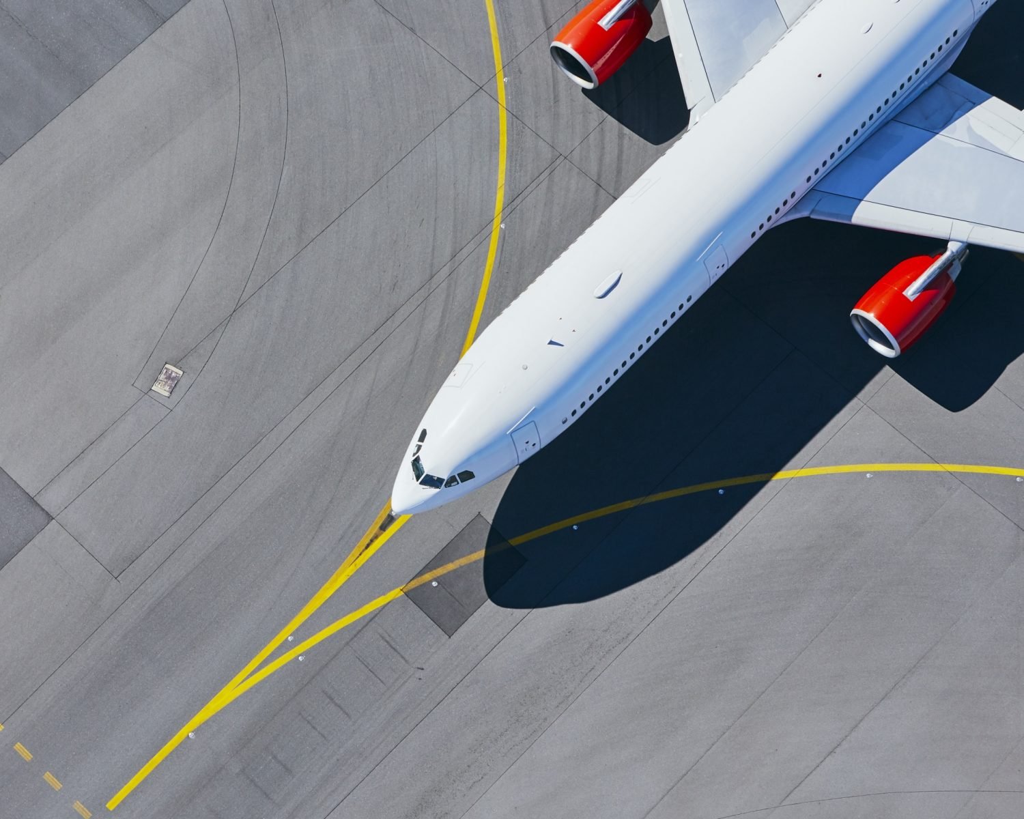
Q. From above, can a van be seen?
No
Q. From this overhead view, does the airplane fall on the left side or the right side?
right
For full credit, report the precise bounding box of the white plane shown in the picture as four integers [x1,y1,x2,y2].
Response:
[391,0,1024,515]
